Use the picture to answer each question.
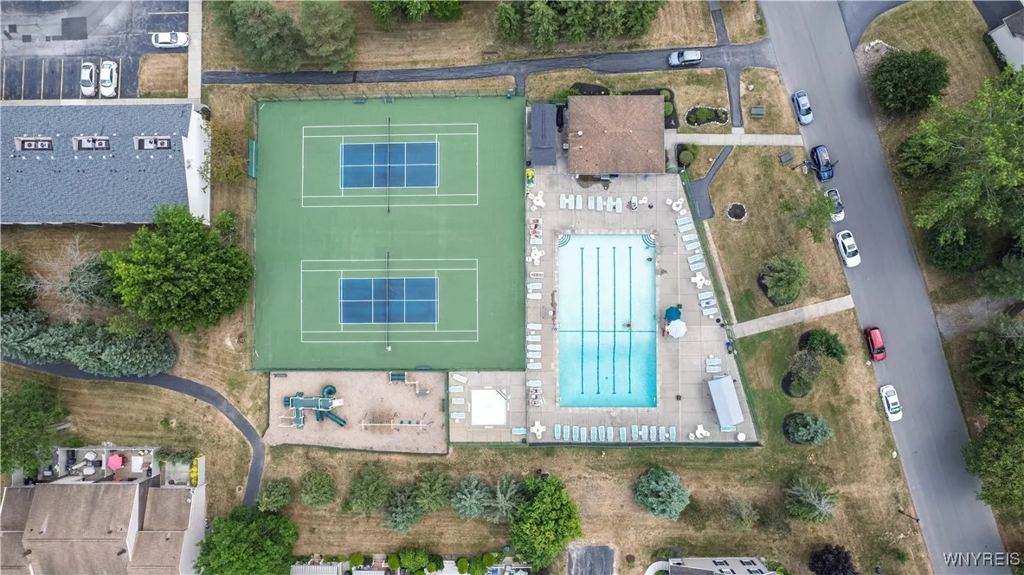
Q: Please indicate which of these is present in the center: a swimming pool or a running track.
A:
swimming pool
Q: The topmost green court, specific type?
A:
tennis court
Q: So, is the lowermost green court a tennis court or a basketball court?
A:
tennis court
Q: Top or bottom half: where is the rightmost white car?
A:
bottom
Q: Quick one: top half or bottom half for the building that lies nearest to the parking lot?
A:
top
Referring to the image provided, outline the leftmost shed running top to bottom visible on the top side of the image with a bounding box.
[531,102,557,168]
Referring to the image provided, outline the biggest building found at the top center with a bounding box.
[567,94,666,177]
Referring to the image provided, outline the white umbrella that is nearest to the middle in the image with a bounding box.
[666,319,686,338]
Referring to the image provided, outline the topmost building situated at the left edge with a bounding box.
[0,102,211,228]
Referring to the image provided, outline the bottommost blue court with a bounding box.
[339,277,439,324]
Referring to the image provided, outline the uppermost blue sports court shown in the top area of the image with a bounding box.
[340,142,439,189]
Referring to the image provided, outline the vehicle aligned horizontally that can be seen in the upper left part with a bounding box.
[152,31,189,49]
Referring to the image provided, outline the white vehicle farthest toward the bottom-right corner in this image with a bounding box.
[877,383,902,422]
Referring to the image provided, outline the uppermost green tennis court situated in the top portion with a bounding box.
[256,95,525,234]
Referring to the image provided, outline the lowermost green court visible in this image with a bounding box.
[254,231,525,371]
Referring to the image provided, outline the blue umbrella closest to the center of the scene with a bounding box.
[664,305,681,321]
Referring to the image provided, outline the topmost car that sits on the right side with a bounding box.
[667,49,703,67]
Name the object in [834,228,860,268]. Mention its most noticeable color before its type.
white car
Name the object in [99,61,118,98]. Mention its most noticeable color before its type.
white car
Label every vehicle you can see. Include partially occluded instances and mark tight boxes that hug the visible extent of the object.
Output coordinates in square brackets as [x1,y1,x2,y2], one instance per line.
[790,88,814,126]
[834,228,860,268]
[99,61,118,98]
[152,31,189,49]
[823,187,846,223]
[807,143,837,181]
[877,383,902,422]
[667,49,703,67]
[862,325,886,362]
[79,63,99,98]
